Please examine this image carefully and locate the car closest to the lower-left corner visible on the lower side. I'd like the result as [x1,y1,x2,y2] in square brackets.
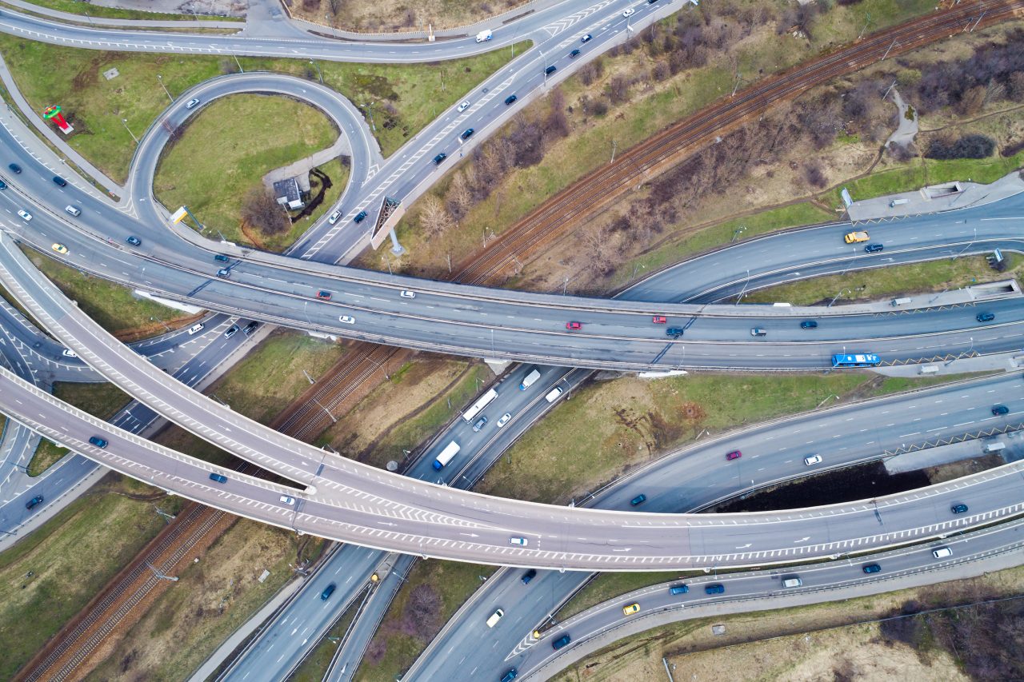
[25,494,44,511]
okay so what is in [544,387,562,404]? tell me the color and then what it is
white vehicle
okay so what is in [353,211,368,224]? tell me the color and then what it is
blue vehicle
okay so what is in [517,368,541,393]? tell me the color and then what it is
white truck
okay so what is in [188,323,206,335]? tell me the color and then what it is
white vehicle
